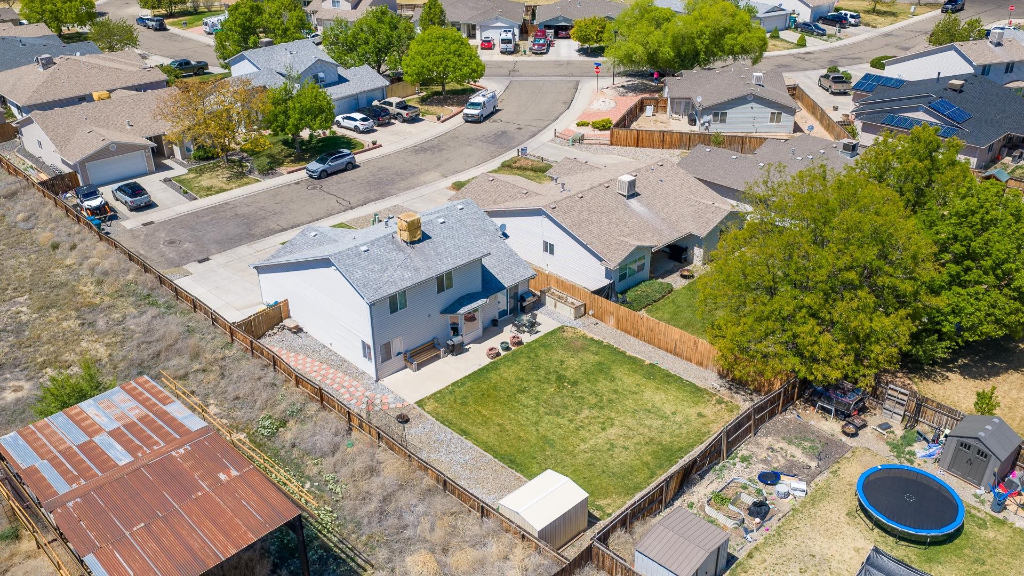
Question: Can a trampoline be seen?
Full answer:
Yes, you can see a trampoline in this photo.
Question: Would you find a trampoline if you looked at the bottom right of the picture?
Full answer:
Yes, you'll find a trampoline at the bottom right of the picture.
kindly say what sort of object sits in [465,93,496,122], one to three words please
van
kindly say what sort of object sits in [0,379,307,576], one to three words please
barn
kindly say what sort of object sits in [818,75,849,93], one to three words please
vehicle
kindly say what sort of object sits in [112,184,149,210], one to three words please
car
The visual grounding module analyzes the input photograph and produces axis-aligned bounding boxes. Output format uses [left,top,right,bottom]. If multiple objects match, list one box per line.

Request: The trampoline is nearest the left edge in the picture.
[757,466,779,483]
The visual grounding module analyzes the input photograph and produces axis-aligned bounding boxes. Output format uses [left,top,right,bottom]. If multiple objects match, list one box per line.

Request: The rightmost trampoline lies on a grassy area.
[850,464,965,550]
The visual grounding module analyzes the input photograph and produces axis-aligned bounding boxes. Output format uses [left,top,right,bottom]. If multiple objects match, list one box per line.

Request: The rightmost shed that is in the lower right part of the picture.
[936,413,1021,493]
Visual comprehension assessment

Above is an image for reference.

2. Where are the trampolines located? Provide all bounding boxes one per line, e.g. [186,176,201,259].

[757,466,779,483]
[850,464,965,550]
